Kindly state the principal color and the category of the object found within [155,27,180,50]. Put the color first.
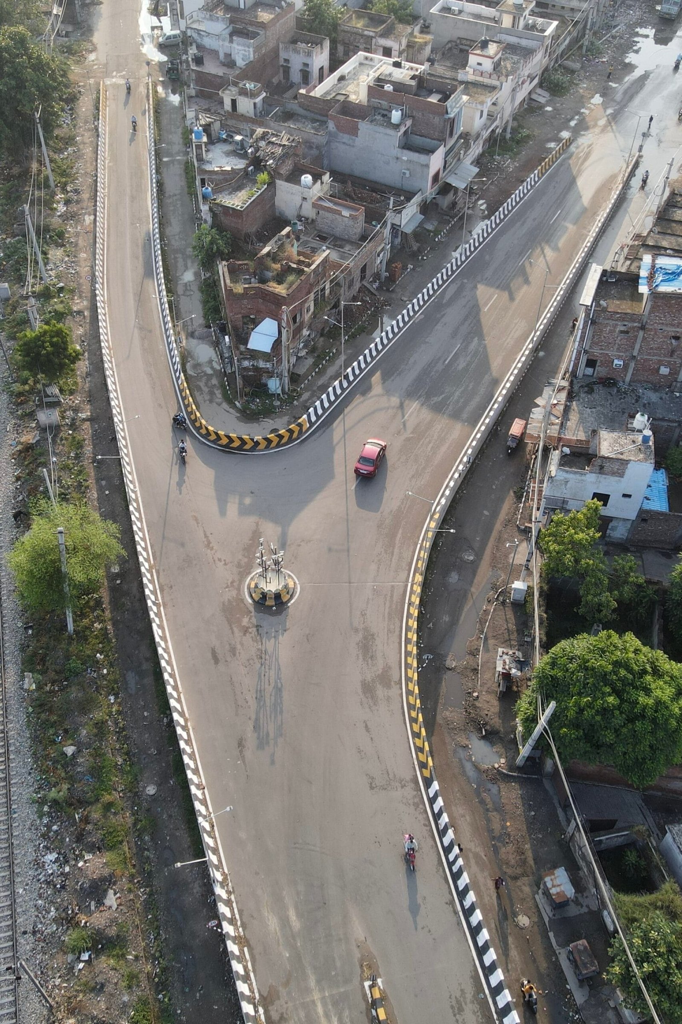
gray vehicle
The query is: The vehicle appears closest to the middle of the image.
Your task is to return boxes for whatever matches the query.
[352,434,385,479]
